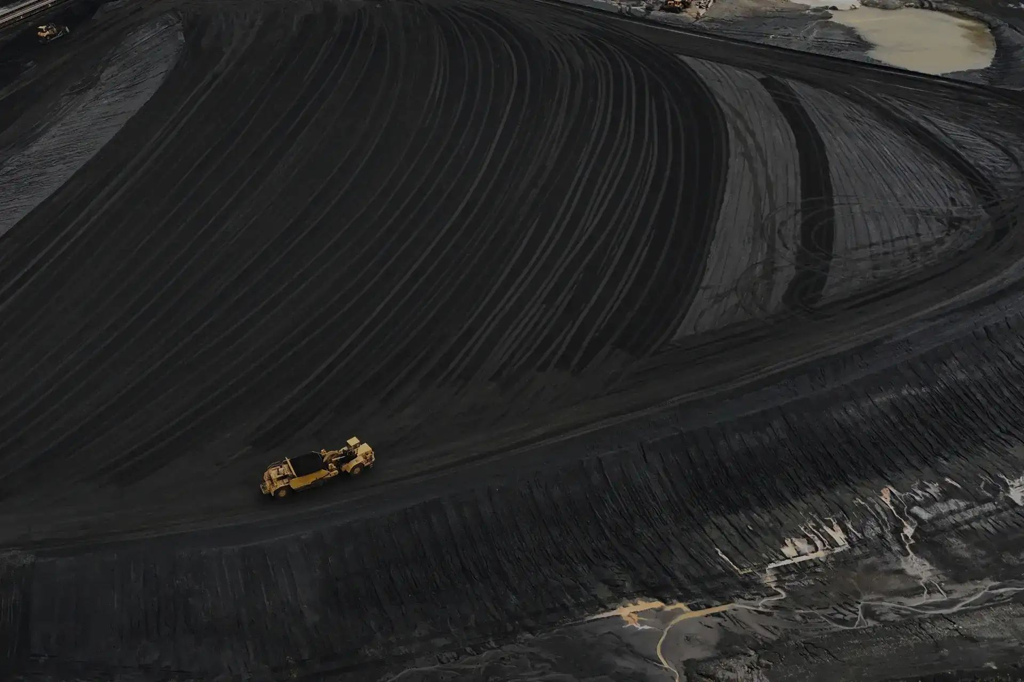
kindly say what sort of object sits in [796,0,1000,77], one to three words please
pond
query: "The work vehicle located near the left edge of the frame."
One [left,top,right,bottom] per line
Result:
[38,23,68,41]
